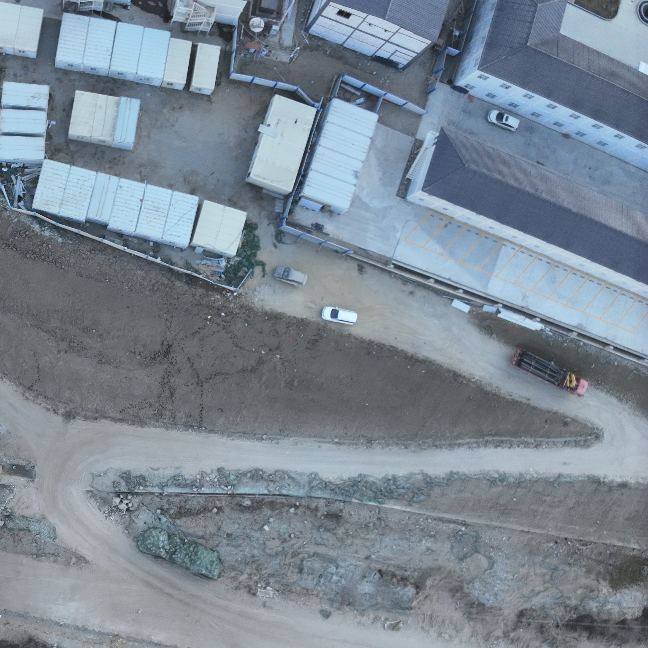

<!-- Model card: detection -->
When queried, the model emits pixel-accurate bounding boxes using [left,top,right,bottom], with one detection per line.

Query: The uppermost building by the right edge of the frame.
[458,0,648,170]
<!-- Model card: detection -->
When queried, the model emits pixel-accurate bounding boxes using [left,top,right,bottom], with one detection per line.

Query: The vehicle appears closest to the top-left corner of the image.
[271,266,308,287]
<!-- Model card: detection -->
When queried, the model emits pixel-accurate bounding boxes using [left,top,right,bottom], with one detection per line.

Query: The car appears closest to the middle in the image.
[320,305,358,326]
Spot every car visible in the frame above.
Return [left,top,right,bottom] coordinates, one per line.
[484,110,521,133]
[271,266,308,287]
[320,305,358,326]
